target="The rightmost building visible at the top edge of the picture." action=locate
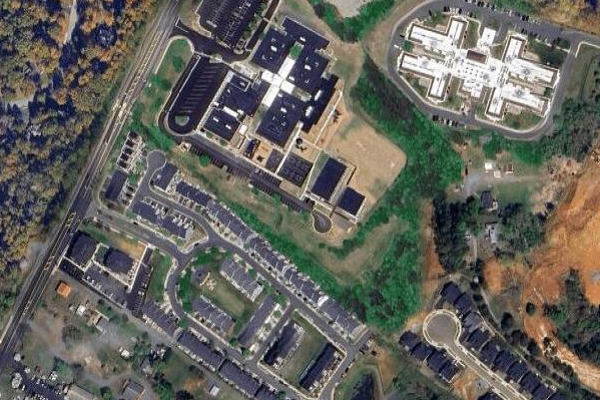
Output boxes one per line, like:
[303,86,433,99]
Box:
[400,18,558,114]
